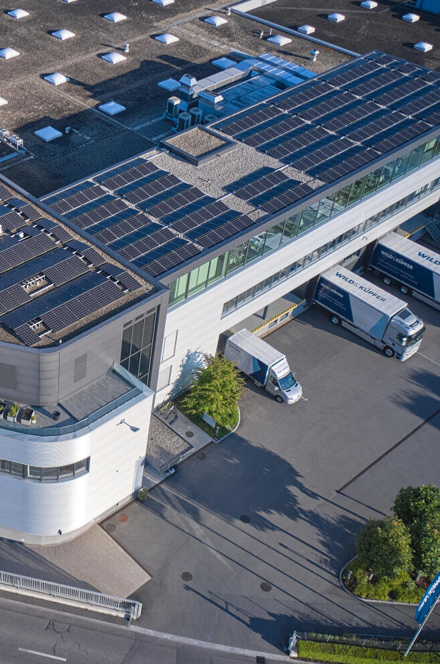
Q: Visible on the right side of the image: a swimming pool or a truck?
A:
truck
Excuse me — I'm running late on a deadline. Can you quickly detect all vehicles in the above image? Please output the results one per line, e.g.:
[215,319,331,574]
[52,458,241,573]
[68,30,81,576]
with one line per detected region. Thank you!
[370,235,440,311]
[226,329,302,404]
[318,268,430,363]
